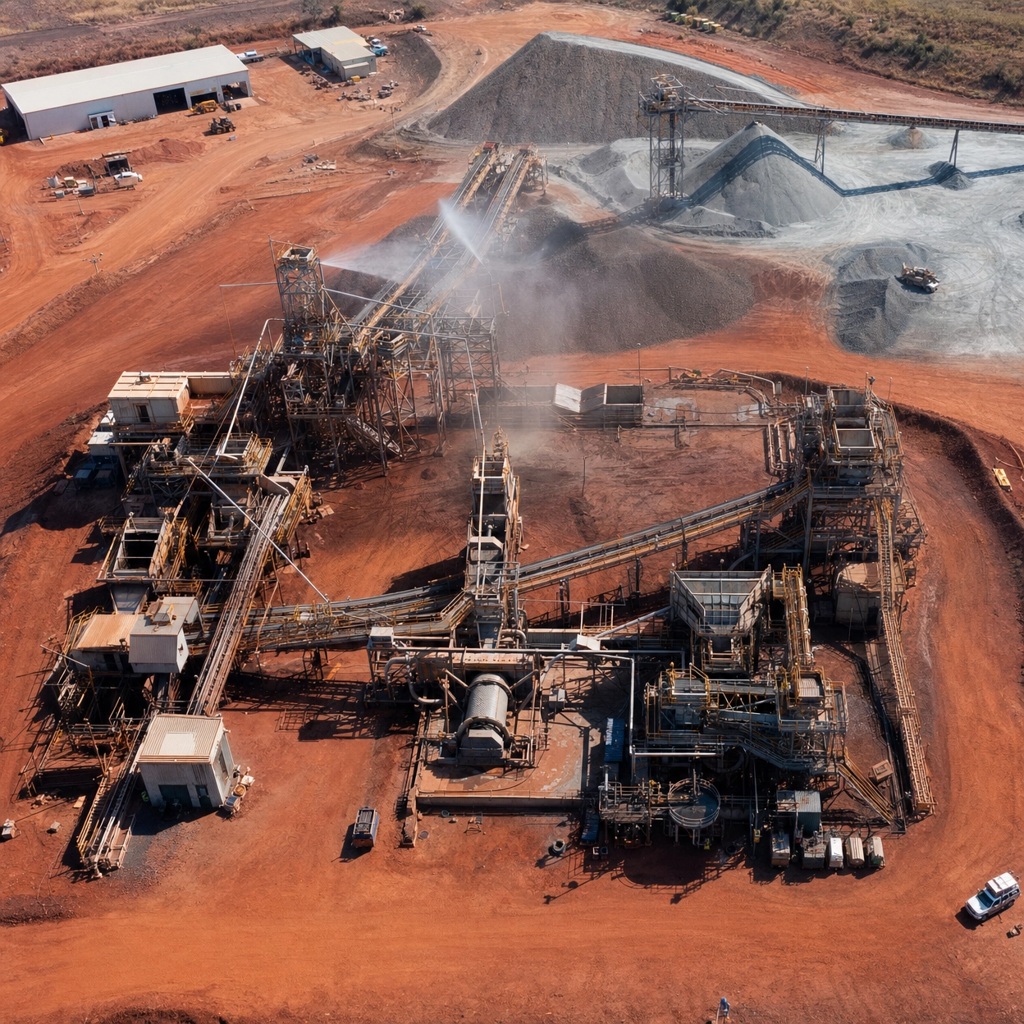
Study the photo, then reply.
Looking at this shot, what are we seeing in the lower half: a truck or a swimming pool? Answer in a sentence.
There is a truck in the lower half.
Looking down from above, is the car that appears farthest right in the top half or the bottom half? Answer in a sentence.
You can find the car that appears farthest right in the bottom half.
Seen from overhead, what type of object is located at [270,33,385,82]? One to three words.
shed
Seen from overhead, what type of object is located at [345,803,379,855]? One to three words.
truck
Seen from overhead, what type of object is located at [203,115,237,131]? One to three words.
work vehicle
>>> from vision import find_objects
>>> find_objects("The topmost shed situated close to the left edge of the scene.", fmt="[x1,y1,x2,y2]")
[0,53,273,139]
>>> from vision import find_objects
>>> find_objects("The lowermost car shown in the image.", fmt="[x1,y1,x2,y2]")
[964,873,1024,921]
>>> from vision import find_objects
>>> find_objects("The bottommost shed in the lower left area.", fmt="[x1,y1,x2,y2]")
[135,711,243,807]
